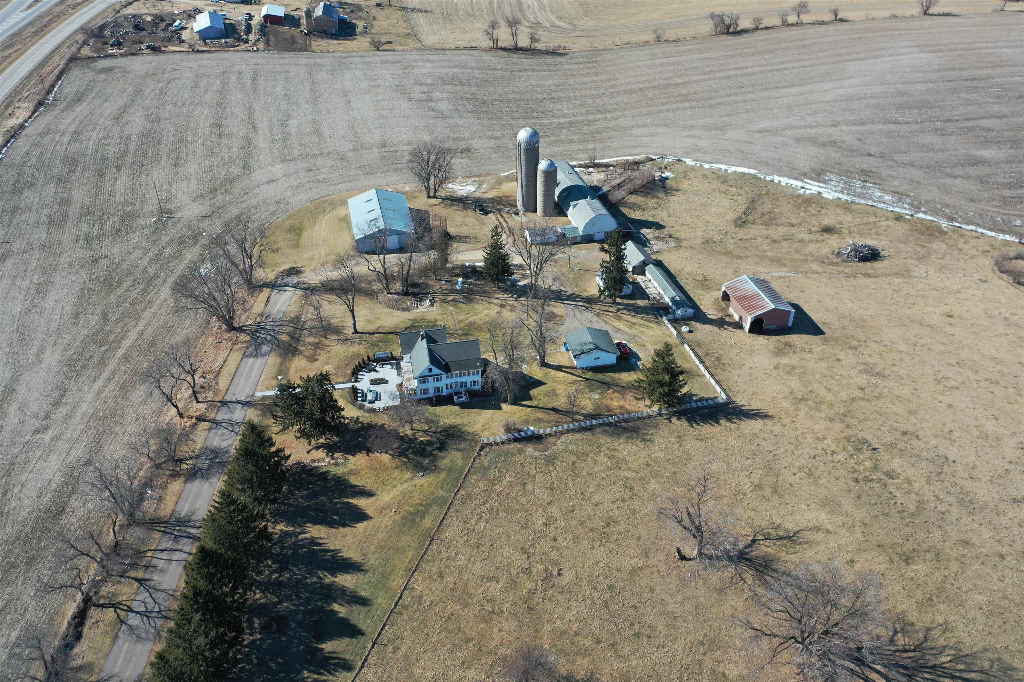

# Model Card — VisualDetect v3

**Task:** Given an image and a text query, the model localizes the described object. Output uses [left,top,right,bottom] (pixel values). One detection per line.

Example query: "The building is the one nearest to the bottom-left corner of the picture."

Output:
[398,323,484,401]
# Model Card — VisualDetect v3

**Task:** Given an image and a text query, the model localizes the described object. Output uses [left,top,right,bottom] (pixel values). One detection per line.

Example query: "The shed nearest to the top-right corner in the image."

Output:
[720,274,796,331]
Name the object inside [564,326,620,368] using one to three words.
building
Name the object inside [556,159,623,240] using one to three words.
barn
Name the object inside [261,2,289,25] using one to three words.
barn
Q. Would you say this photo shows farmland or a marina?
farmland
